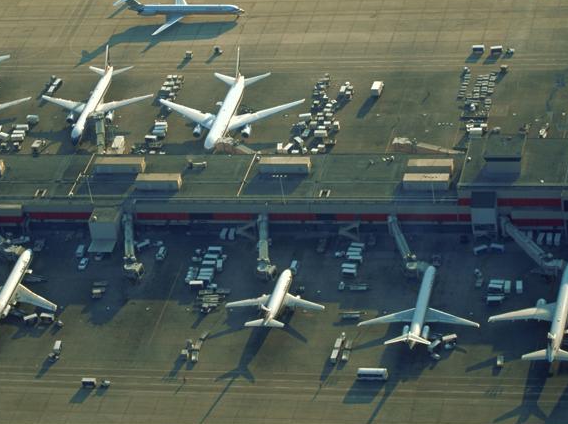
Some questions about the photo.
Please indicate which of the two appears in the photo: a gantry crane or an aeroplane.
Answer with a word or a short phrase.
aeroplane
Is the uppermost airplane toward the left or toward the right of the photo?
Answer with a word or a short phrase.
left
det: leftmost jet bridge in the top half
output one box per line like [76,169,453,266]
[89,114,110,153]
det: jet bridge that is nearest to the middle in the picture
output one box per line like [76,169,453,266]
[254,214,279,283]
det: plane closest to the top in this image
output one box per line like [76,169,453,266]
[121,0,246,35]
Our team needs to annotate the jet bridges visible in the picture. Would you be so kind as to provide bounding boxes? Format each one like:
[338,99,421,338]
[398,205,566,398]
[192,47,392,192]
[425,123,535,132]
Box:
[254,214,279,283]
[221,137,266,153]
[89,114,110,153]
[0,243,22,266]
[499,222,565,281]
[120,215,146,283]
[384,215,426,283]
